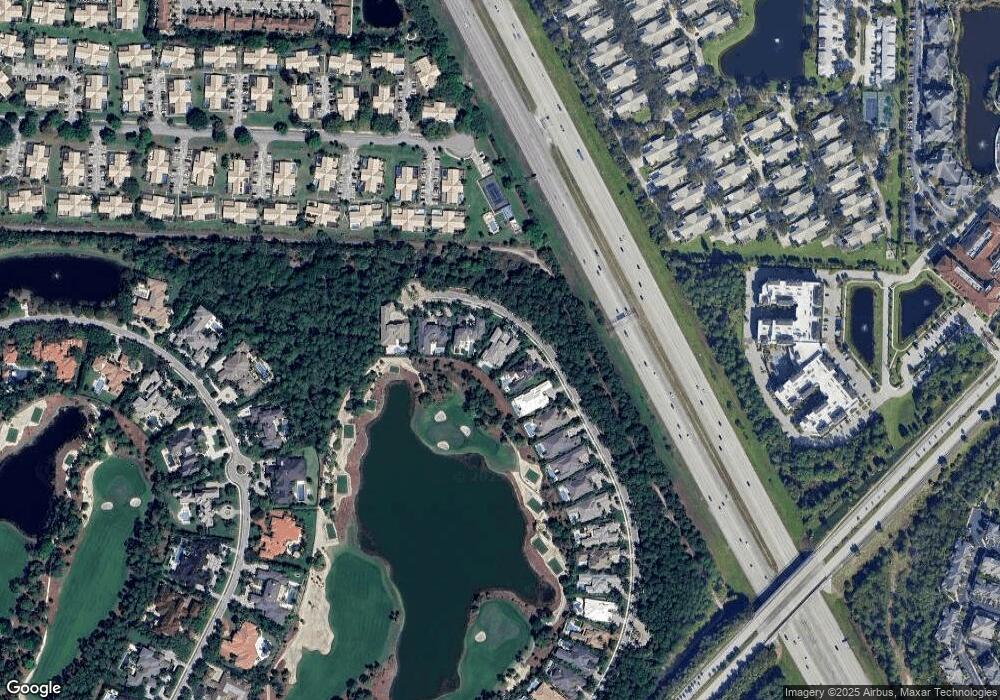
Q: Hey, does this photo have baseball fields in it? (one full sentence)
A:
No, there's no baseball field here.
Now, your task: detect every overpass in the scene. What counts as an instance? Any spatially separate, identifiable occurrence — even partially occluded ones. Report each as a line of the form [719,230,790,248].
[747,550,841,644]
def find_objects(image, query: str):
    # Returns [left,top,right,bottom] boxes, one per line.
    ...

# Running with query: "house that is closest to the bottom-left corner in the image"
[125,643,167,691]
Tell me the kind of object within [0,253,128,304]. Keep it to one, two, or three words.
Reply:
pond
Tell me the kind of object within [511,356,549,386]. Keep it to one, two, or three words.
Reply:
house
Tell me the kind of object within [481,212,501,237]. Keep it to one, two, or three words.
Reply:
swimming pool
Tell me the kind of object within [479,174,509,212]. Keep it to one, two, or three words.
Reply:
tennis court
